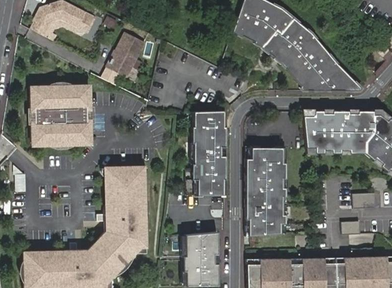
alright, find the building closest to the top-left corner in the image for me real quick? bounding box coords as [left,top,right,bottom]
[32,0,96,40]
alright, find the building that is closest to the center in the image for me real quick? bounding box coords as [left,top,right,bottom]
[192,112,228,196]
